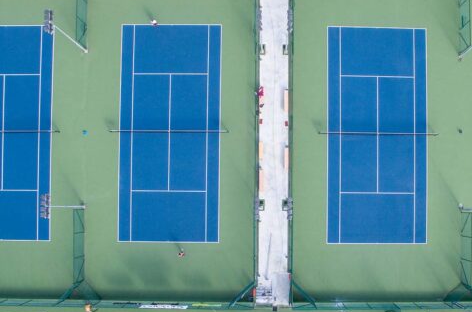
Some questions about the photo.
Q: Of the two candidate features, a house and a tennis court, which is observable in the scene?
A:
tennis court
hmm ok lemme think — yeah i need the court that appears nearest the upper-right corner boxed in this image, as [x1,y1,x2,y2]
[326,26,427,244]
